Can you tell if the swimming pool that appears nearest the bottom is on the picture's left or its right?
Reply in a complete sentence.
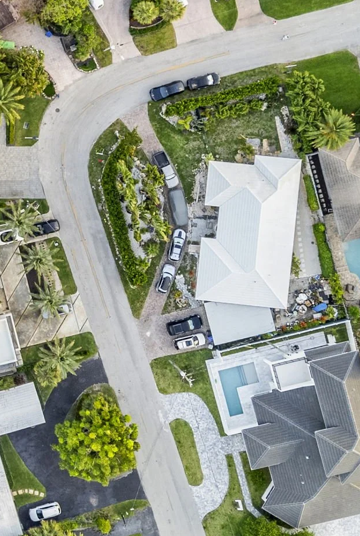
You can find the swimming pool that appears nearest the bottom on the right side of the picture.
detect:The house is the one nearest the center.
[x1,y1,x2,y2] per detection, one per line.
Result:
[192,155,302,345]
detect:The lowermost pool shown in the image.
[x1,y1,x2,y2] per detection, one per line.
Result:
[218,363,259,416]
